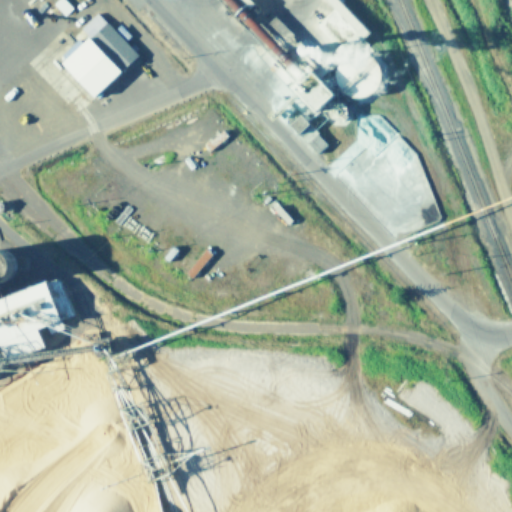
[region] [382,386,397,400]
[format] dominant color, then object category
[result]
white vehicle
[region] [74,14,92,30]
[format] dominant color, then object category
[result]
white vehicle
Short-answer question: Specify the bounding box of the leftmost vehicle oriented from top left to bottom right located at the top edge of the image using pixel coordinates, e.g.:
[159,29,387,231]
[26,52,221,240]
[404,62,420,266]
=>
[22,10,40,30]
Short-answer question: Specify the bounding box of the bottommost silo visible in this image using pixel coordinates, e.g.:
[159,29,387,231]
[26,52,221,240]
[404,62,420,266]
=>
[0,250,22,288]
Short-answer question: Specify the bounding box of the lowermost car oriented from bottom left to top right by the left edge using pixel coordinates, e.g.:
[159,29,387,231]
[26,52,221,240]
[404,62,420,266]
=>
[3,86,21,103]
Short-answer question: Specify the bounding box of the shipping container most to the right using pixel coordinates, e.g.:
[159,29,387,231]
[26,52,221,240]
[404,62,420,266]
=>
[190,250,214,280]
